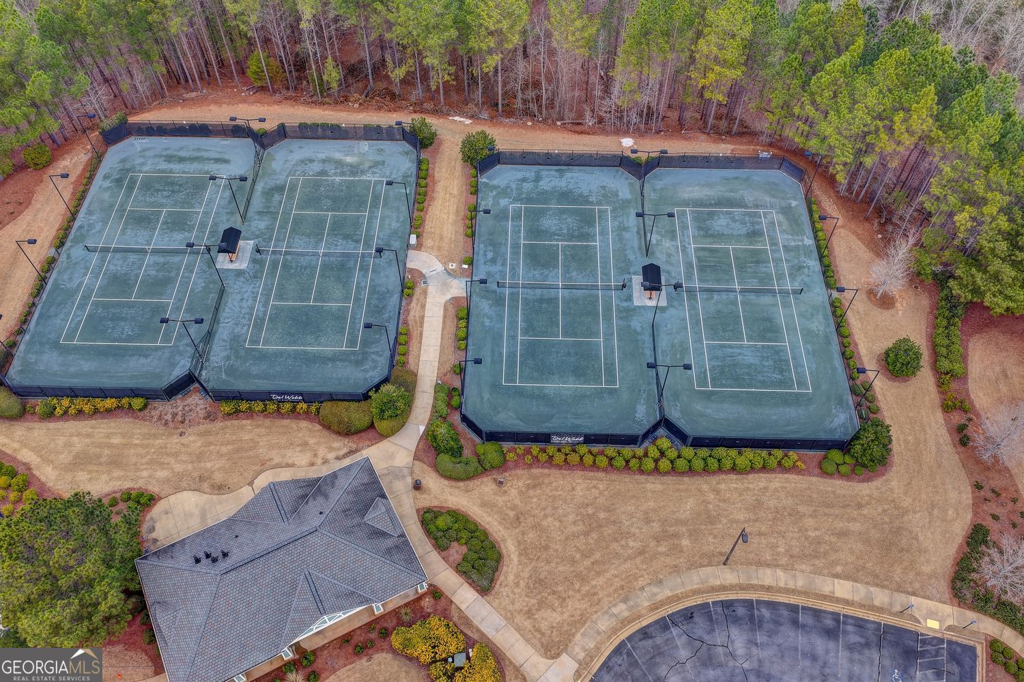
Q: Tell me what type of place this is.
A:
sports ground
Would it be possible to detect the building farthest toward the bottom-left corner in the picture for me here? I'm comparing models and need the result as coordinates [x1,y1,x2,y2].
[136,456,432,682]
